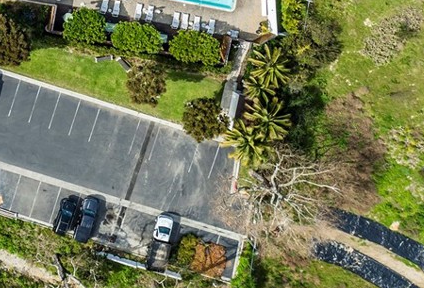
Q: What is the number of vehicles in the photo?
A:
three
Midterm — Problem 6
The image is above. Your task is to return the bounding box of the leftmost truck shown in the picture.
[54,195,80,239]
